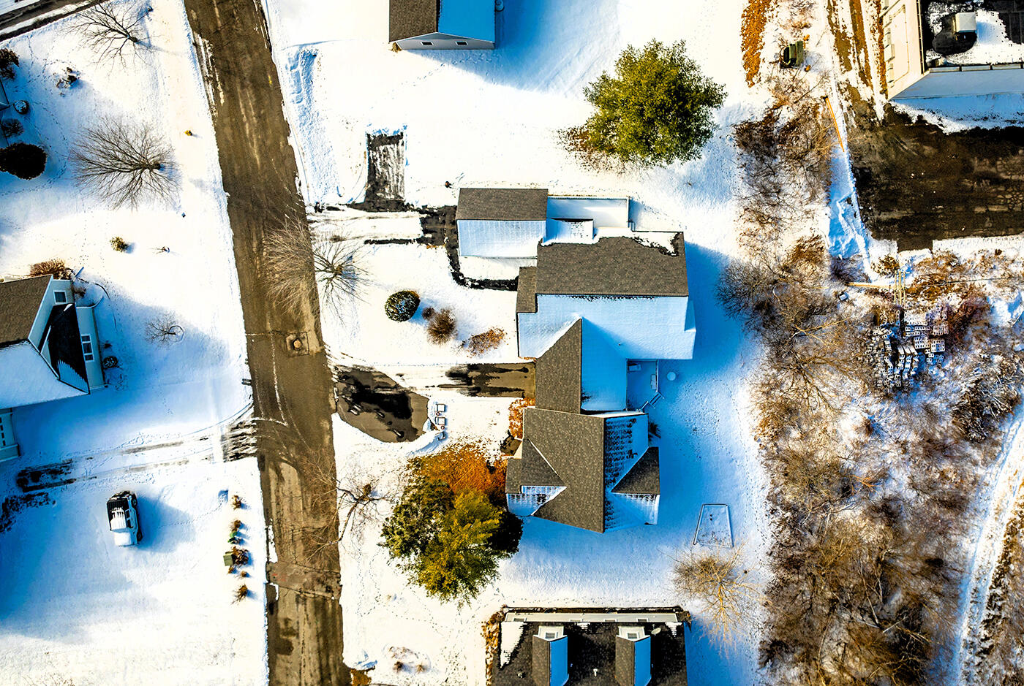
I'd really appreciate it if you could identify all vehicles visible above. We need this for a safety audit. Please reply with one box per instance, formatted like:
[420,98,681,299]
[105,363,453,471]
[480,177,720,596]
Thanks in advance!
[103,490,139,551]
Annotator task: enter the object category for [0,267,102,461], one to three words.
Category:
house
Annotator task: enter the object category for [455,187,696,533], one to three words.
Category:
house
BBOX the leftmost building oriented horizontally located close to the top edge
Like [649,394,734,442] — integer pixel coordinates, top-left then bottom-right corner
[387,0,497,52]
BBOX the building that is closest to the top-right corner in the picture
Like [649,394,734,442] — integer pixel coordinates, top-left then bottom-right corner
[871,0,1024,97]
